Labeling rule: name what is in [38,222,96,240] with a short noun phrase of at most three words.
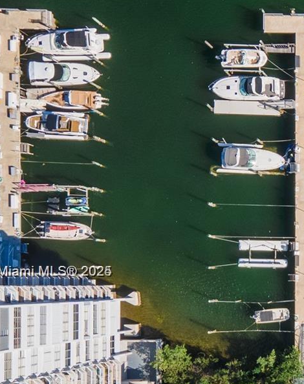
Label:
boat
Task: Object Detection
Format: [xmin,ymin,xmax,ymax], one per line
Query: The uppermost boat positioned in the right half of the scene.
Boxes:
[216,48,268,68]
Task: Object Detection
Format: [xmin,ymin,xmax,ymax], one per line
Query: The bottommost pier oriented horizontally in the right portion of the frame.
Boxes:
[214,101,284,116]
